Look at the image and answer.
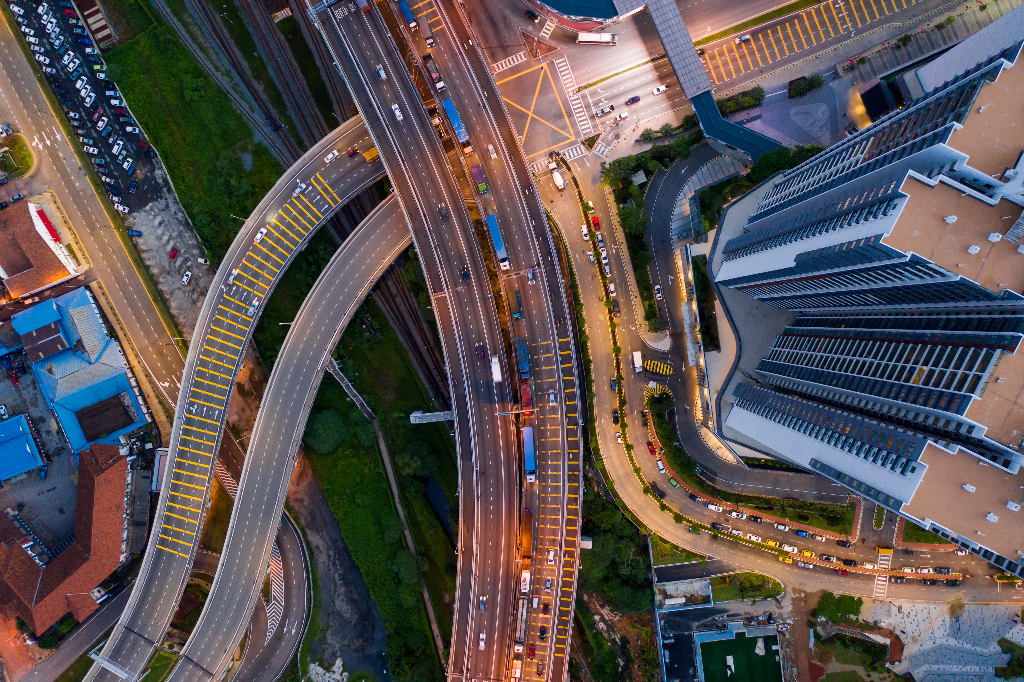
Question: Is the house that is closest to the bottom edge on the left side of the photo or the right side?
right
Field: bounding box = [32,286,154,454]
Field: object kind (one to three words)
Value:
house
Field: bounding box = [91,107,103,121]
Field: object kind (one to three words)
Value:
vehicle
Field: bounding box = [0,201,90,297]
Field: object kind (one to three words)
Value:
house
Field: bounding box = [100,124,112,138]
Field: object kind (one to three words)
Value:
vehicle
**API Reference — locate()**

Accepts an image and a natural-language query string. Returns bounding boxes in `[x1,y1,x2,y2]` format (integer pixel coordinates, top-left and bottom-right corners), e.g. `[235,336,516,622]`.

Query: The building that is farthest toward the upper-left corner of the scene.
[75,0,121,53]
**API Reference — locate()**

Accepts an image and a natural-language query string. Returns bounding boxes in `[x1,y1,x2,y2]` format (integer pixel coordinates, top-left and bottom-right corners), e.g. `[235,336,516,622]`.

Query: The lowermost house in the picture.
[692,618,783,682]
